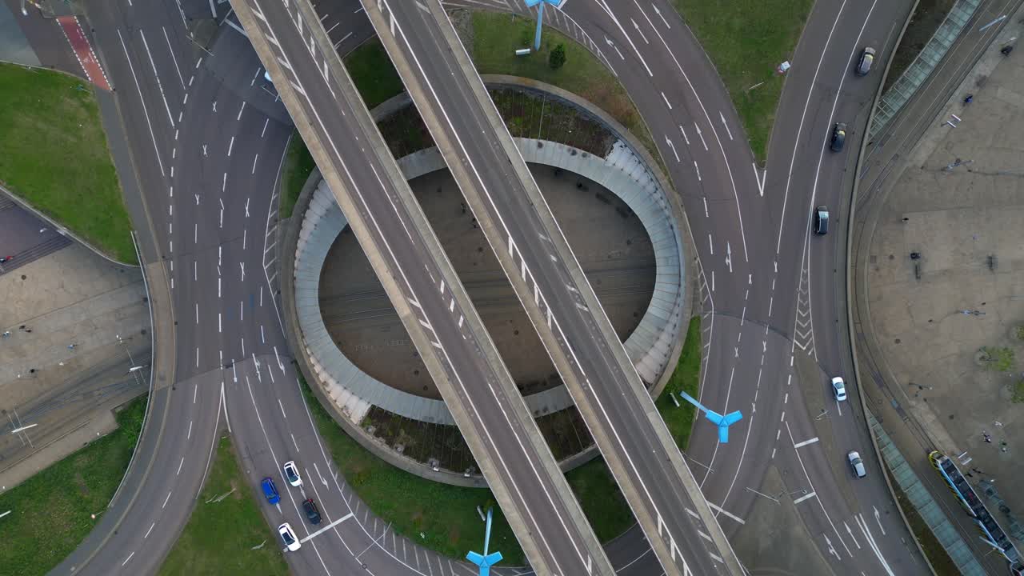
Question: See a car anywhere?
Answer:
Yes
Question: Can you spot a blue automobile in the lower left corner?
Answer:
Yes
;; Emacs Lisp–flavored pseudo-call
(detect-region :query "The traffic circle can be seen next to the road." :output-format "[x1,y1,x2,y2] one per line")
[128,0,896,576]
